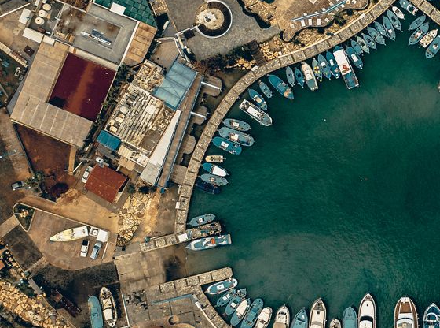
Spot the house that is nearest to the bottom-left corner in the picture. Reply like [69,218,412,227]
[85,165,130,203]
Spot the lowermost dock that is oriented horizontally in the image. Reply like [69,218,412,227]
[154,267,235,295]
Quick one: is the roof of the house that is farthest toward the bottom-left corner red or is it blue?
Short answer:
red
